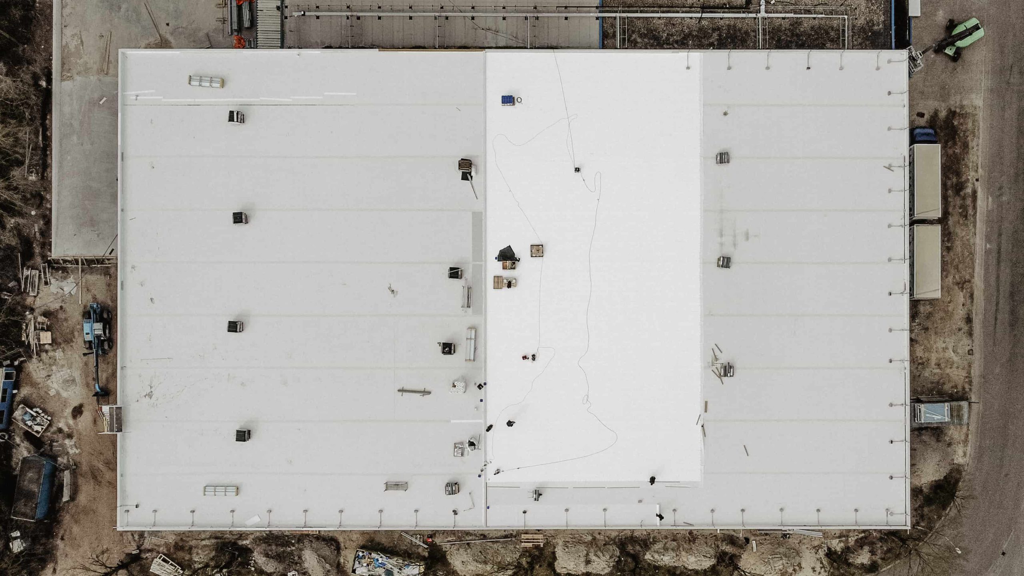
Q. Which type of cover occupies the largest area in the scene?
buildings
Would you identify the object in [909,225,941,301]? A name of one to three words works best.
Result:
trailer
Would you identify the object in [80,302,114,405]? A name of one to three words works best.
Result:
work vehicle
